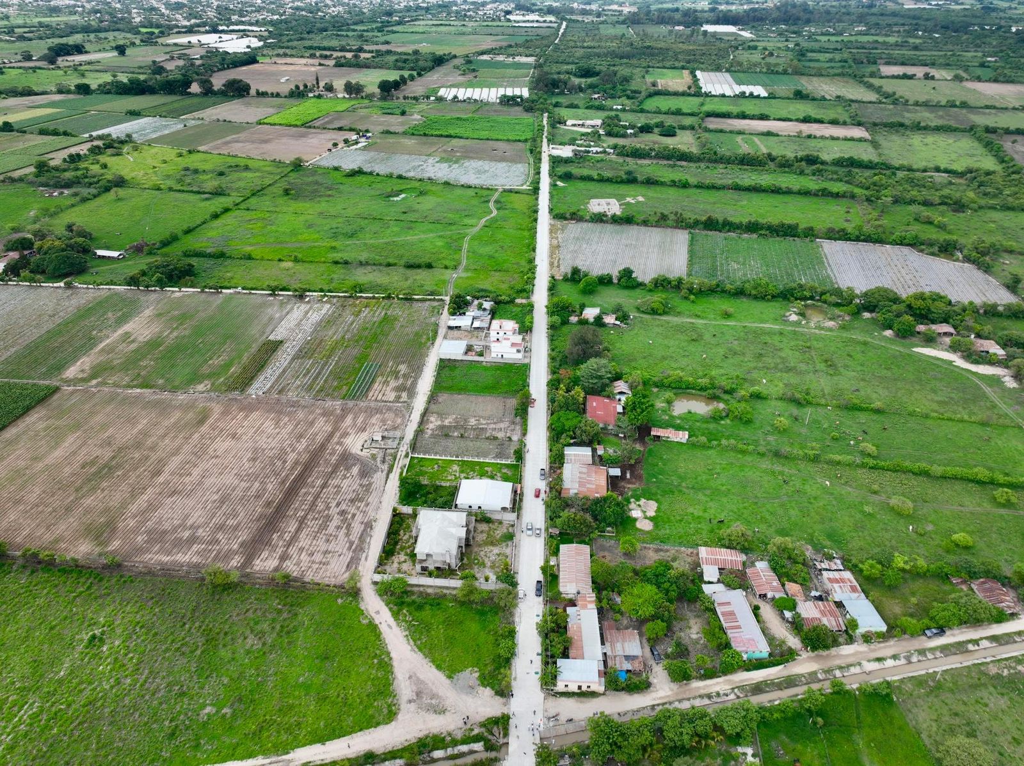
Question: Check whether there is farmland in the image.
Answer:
Yes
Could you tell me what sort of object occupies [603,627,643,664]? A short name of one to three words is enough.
house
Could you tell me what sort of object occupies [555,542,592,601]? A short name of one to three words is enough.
house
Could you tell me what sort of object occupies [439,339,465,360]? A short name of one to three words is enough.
shed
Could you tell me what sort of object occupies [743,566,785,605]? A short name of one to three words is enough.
barn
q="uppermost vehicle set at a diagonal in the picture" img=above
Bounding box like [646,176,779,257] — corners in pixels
[647,643,664,664]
